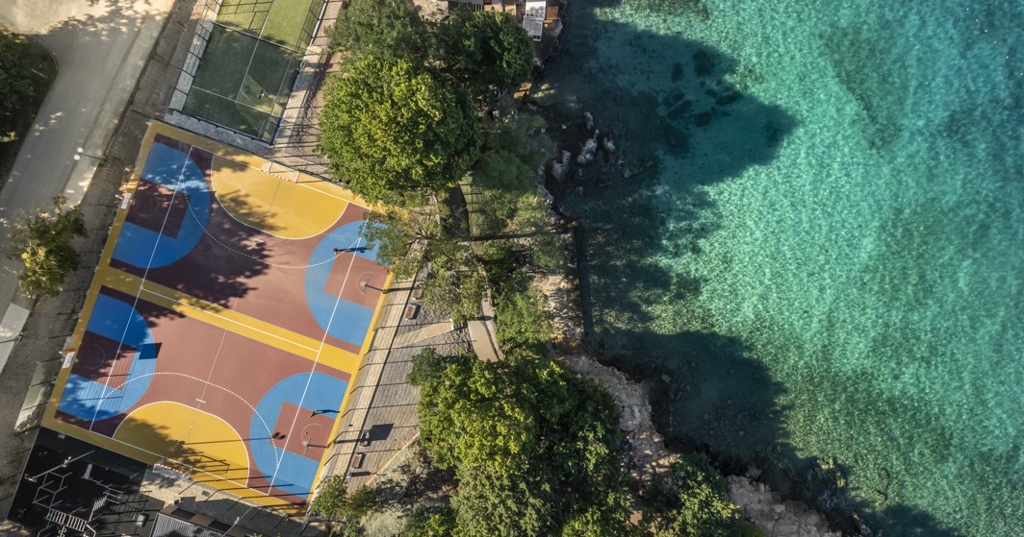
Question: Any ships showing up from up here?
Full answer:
No, this view has no ship in it.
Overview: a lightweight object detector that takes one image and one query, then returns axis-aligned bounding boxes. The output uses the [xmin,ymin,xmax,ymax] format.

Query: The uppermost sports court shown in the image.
[162,0,322,145]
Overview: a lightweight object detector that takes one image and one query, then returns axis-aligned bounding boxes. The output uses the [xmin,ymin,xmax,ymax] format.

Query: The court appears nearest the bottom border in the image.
[41,119,417,522]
